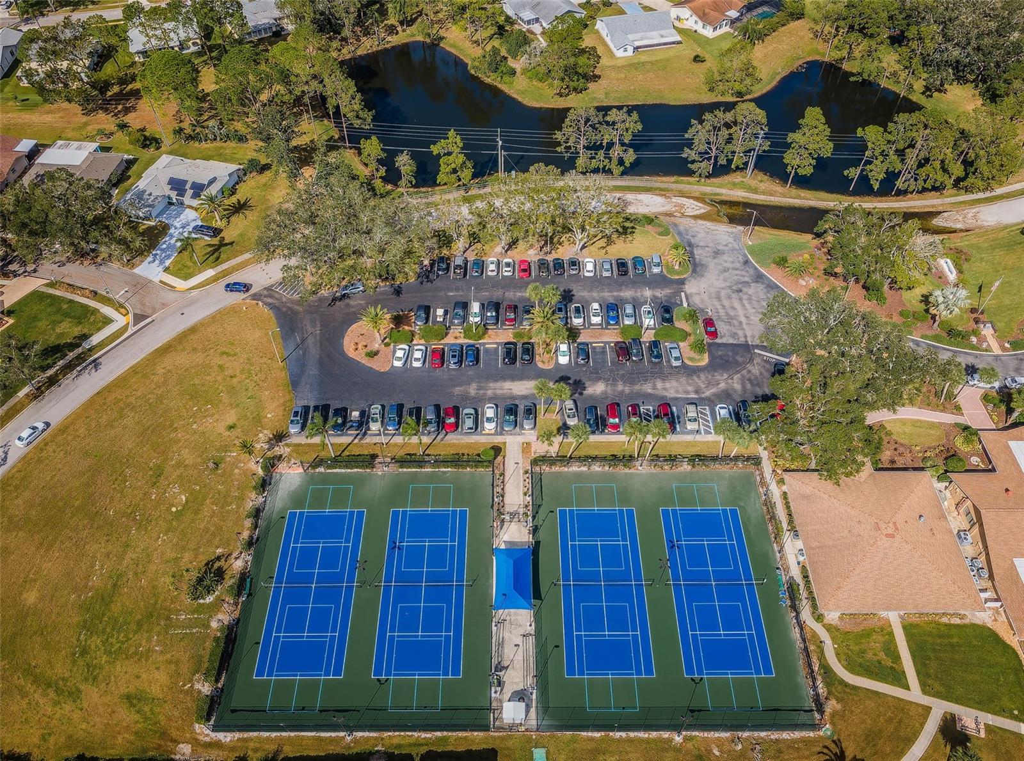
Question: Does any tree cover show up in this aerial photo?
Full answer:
Yes, some tree cover is visible.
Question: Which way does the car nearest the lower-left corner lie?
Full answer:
The car nearest the lower-left corner runs on a diagonal in the image.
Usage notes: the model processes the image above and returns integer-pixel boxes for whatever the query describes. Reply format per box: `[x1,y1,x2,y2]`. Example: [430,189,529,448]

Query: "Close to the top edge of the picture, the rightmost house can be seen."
[671,0,746,37]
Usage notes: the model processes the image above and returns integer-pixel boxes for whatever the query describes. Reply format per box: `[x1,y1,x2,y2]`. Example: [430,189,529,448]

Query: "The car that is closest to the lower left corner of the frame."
[15,422,49,448]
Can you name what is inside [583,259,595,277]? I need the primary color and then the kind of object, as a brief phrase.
white vehicle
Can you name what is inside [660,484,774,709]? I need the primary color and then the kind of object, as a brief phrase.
blue tennis court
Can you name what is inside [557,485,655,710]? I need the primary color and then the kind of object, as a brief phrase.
blue tennis court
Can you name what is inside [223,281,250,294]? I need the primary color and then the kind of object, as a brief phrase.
blue vehicle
